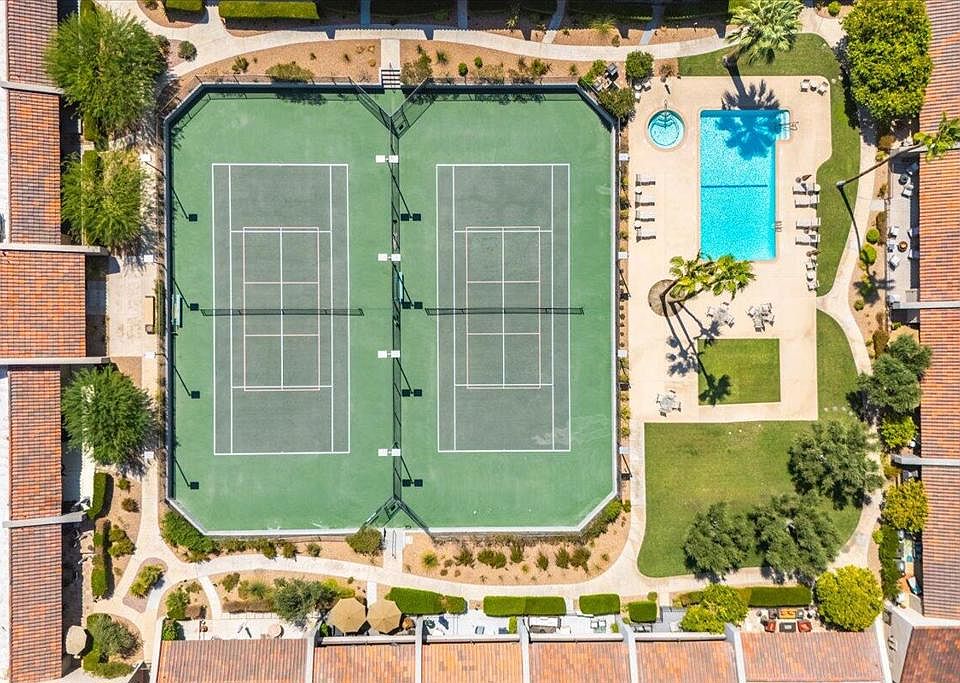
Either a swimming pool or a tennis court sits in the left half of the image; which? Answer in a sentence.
Visible in the left half of the image is a tennis court.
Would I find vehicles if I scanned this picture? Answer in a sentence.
No, the photo shows no vehicle.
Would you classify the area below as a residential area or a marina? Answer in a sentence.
What you see here is a residential area.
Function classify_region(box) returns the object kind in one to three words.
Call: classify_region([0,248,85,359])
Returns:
house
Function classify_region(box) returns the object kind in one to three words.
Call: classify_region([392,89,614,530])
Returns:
tennis court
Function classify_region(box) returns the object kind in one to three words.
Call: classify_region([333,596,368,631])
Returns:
umbrella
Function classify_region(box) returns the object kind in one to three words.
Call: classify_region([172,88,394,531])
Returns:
tennis court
